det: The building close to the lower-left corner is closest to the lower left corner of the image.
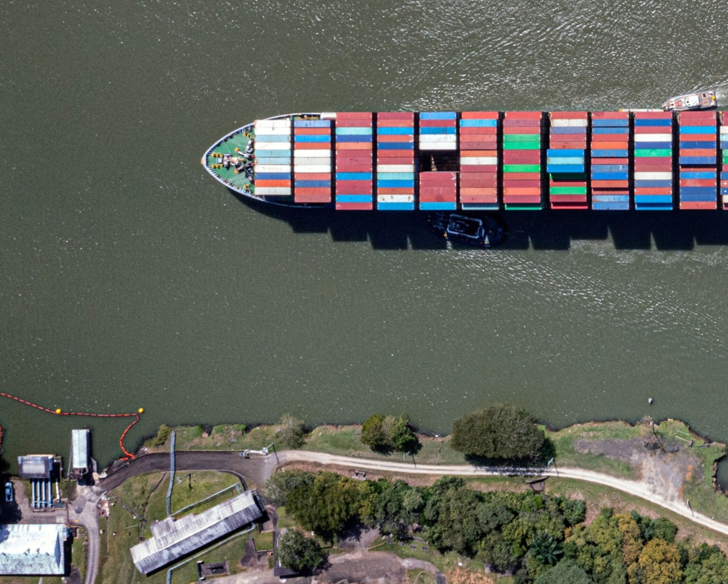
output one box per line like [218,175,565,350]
[0,522,69,575]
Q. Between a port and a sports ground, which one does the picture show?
port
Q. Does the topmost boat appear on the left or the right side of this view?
right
